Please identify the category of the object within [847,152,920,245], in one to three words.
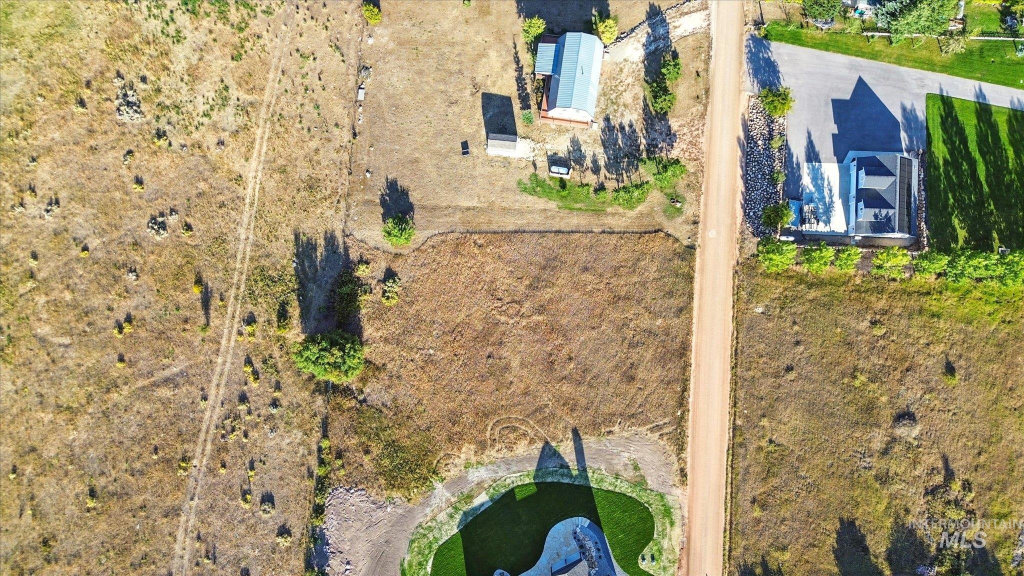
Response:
building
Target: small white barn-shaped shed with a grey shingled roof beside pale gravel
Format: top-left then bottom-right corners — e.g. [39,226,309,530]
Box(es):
[486,132,517,158]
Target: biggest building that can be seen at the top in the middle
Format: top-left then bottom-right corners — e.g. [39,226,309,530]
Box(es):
[533,31,606,131]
